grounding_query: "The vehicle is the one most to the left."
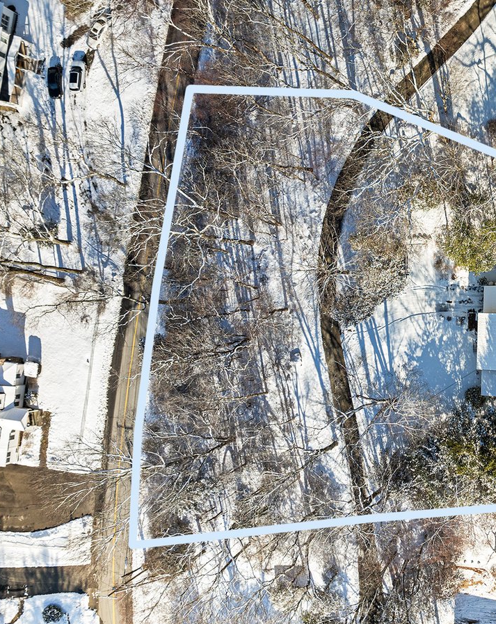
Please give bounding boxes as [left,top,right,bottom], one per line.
[41,63,61,98]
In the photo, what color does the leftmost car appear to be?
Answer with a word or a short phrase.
black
